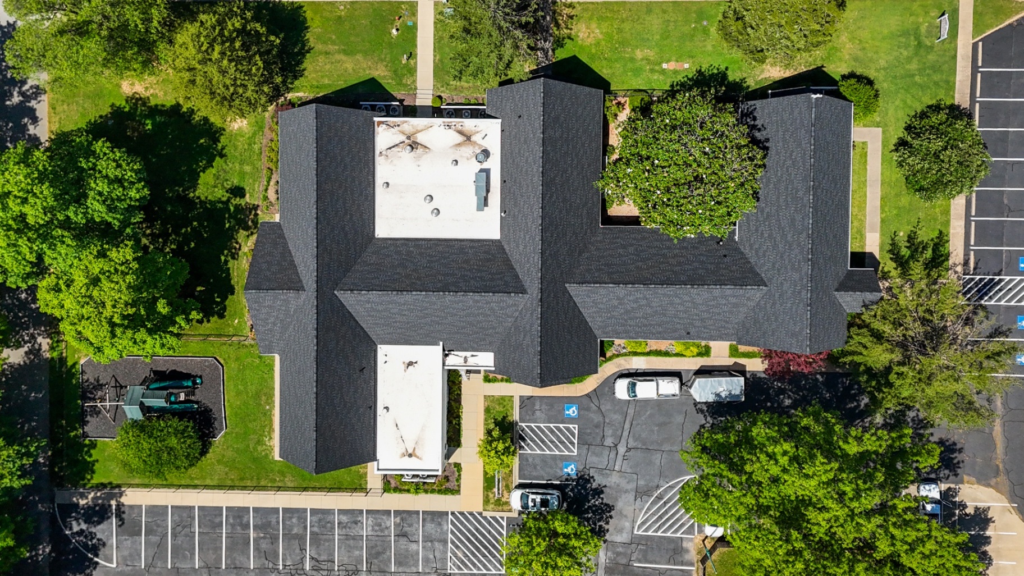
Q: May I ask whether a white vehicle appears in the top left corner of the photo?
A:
No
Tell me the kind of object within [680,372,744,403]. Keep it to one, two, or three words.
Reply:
trailer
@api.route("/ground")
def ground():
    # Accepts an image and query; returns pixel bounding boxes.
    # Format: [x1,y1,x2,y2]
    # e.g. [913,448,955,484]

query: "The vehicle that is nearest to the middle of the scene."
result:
[613,374,681,400]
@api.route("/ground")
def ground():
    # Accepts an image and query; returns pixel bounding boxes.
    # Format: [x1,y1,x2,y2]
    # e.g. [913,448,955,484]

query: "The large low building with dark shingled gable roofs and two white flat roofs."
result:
[244,73,883,474]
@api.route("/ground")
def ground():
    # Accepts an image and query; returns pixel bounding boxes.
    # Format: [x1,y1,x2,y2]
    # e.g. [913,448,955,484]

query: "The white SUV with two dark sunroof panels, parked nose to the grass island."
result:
[511,485,562,513]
